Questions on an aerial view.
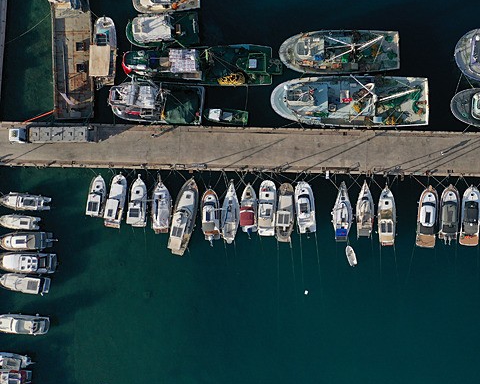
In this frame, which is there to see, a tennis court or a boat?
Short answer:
boat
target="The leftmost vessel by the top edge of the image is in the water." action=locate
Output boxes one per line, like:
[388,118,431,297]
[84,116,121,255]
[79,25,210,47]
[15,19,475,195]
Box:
[4,0,100,126]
